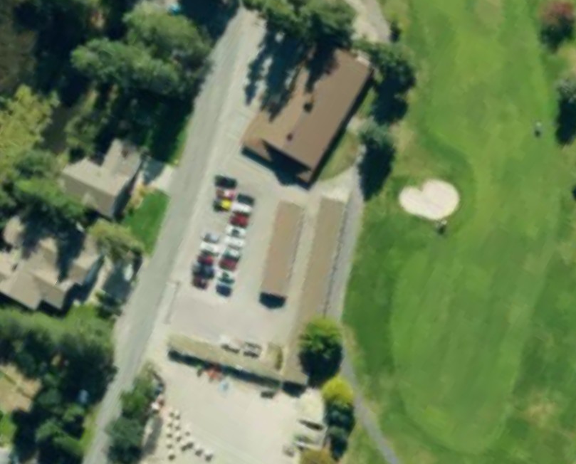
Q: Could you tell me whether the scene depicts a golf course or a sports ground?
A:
golf course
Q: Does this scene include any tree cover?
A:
Yes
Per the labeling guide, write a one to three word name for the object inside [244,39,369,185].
building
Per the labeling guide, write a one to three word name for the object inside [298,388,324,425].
barn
